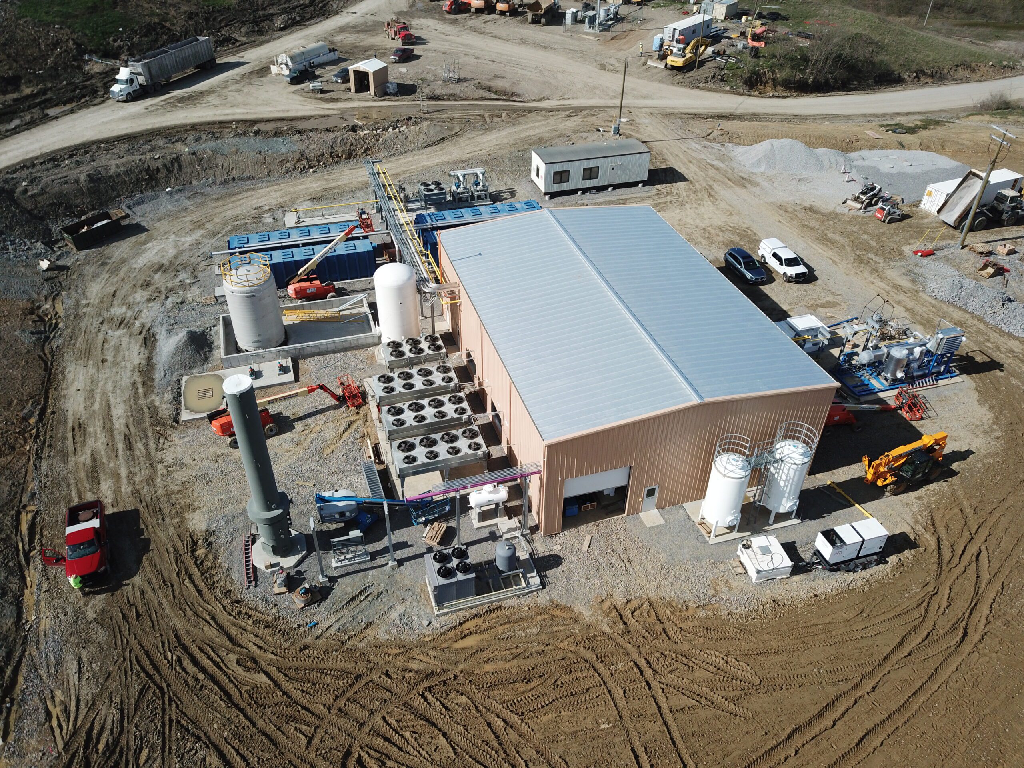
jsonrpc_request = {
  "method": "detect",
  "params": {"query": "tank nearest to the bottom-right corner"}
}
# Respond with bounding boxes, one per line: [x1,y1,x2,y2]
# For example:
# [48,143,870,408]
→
[735,536,795,587]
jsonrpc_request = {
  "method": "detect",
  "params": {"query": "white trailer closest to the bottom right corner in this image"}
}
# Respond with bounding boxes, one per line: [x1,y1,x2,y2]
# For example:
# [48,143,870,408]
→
[797,515,890,567]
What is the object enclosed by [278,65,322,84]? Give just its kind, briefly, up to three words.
vehicle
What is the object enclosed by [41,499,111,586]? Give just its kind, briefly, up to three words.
truck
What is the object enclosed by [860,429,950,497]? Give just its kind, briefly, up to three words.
work vehicle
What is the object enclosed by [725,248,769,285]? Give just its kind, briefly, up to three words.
car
